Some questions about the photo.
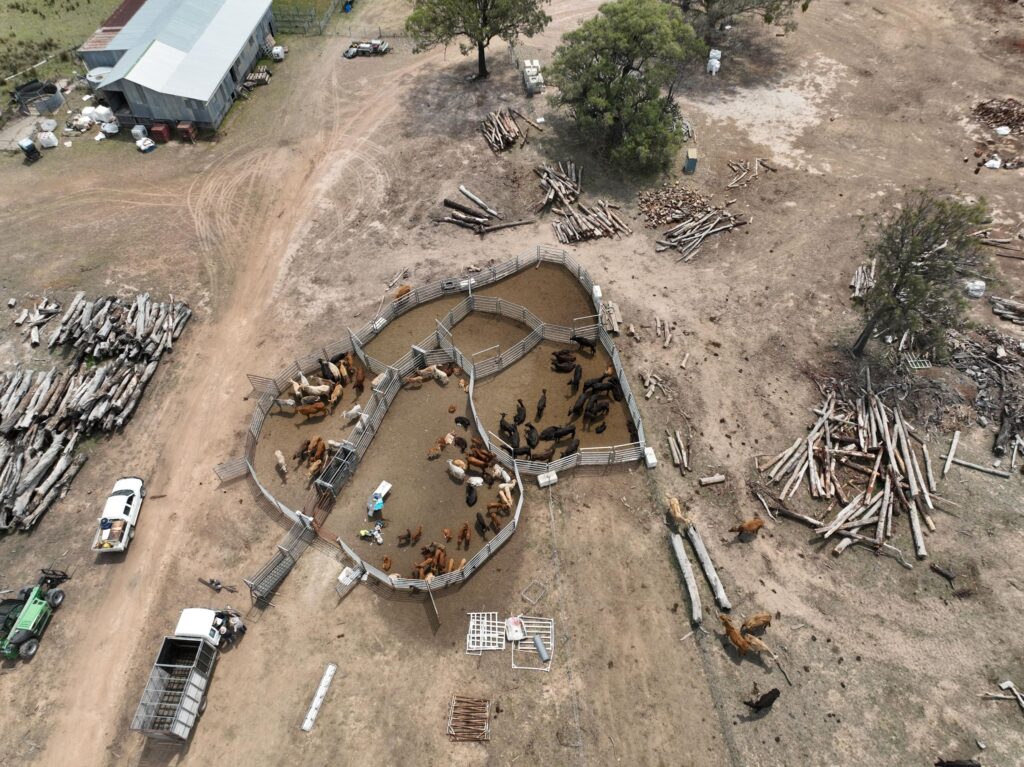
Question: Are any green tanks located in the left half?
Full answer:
No, I see no green tank in the left half.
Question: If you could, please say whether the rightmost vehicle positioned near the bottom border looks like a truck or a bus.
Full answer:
The rightmost vehicle positioned near the bottom border can be classified as a truck.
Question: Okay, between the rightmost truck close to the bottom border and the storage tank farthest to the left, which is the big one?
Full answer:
It is the truck that is larger, not the storage tank.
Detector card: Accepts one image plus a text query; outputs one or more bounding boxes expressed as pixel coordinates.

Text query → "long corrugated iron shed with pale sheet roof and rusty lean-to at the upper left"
[77,0,291,128]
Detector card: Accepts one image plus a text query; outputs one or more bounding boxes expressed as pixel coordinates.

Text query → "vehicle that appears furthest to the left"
[0,560,77,662]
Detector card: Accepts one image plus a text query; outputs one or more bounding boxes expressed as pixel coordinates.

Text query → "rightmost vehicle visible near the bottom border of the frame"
[128,605,235,754]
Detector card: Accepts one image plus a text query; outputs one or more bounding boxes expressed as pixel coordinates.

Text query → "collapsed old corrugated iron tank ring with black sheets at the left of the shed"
[5,82,64,119]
